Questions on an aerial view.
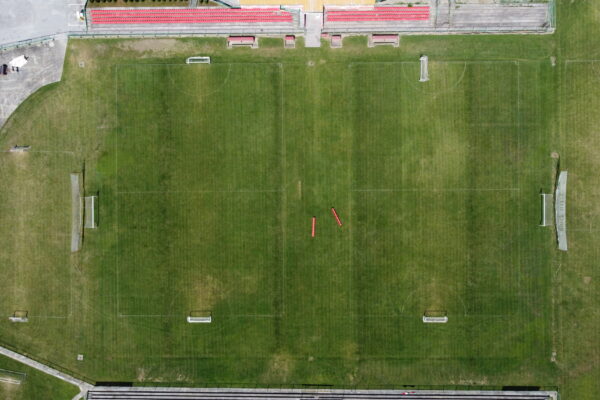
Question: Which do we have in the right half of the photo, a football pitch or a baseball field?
football pitch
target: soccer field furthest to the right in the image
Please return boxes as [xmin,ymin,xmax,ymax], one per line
[564,60,600,330]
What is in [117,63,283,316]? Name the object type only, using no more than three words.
soccer field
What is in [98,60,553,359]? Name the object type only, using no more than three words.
soccer field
